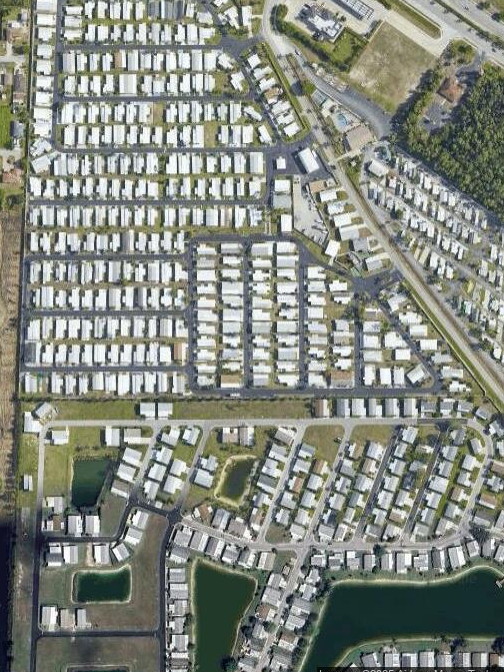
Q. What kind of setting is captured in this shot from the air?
residential area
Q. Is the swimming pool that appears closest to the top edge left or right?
right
